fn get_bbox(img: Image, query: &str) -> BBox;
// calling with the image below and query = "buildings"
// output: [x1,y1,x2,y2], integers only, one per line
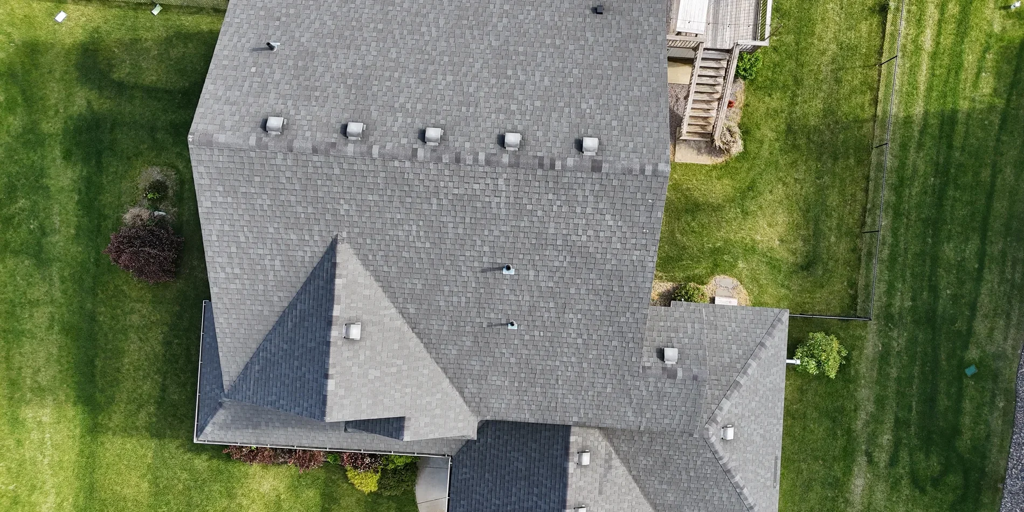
[188,0,799,512]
